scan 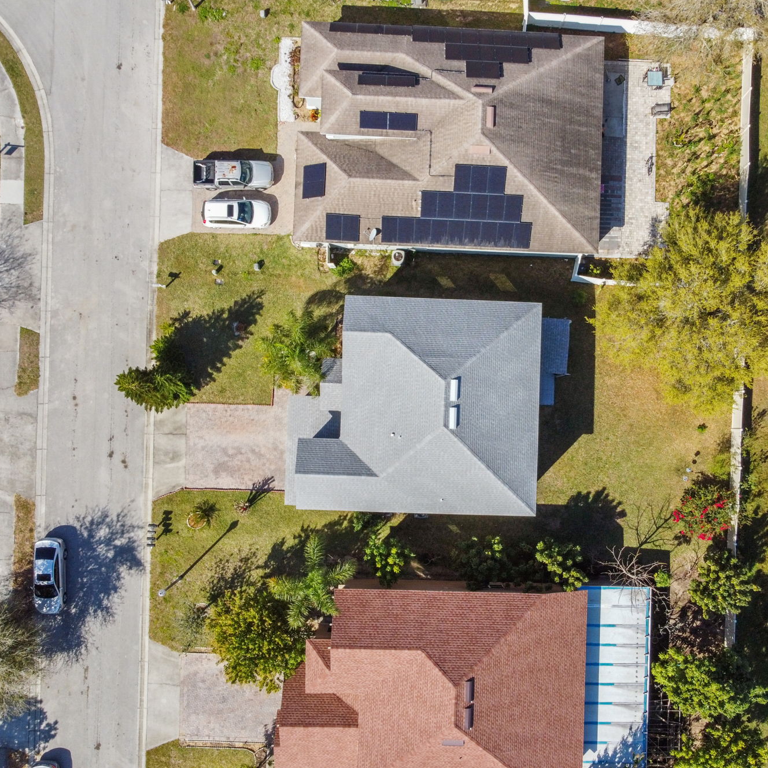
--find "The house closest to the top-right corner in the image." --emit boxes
[289,21,605,258]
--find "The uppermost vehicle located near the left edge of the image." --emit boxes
[31,536,72,612]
